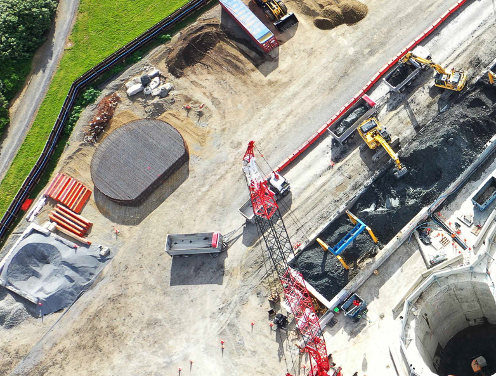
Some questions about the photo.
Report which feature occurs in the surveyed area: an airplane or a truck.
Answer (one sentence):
This aerial view contains a truck.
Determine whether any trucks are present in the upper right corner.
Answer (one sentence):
Yes, the scene does show a truck in the upper right corner.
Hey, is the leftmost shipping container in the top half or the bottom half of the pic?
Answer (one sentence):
The leftmost shipping container is in the top half of the image.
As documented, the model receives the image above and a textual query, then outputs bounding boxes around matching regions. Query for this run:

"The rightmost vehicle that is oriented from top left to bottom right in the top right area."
[413,43,473,100]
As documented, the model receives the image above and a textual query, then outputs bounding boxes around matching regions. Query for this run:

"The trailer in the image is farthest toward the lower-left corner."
[161,236,245,264]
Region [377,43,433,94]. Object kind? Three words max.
truck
